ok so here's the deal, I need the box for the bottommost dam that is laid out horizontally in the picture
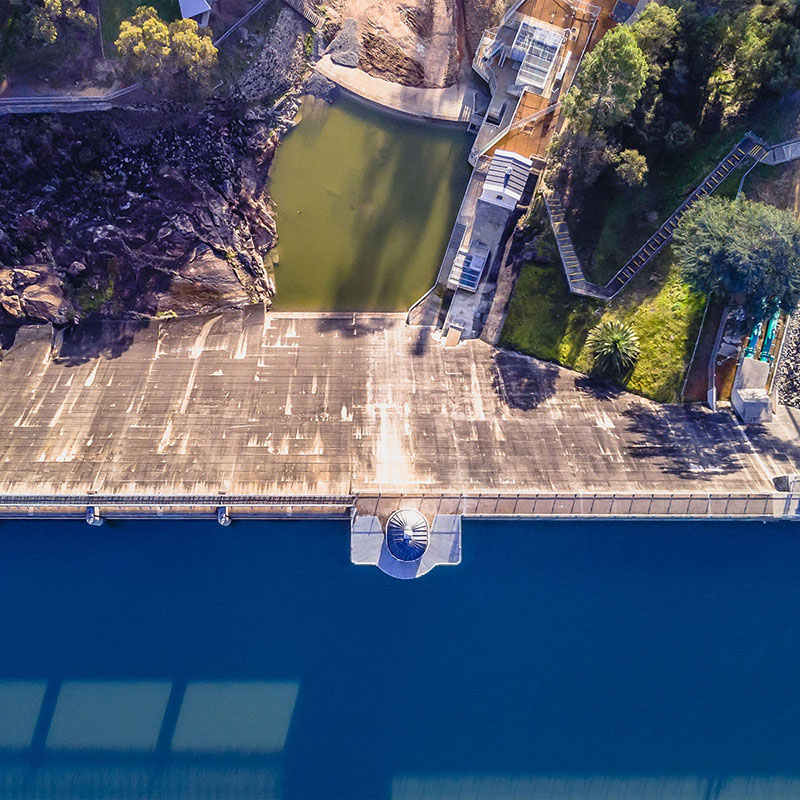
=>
[0,303,800,521]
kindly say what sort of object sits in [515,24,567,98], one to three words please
building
